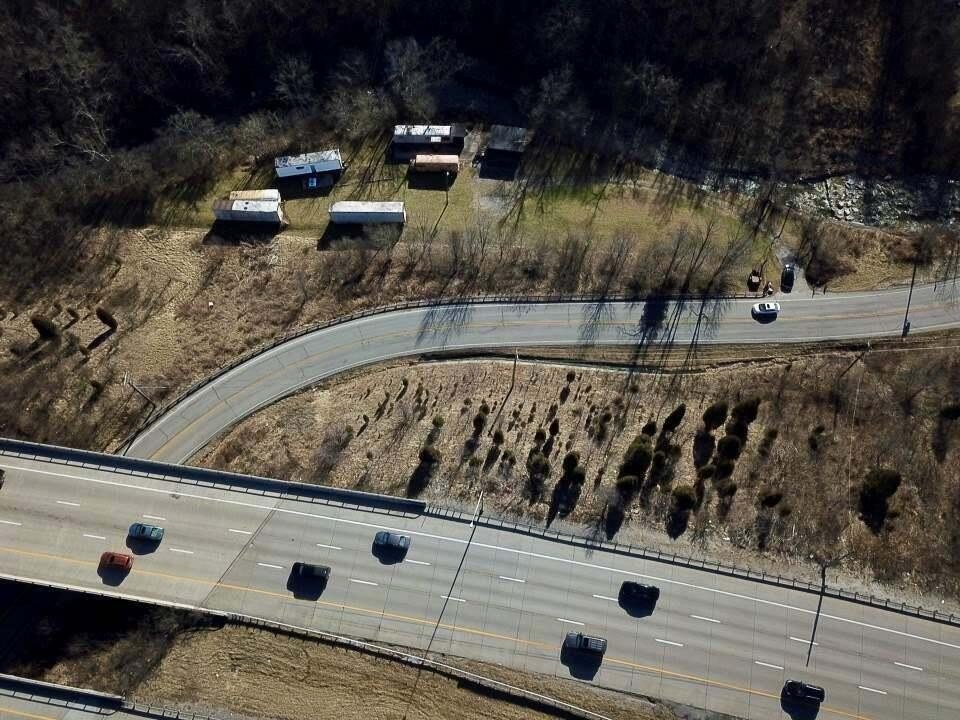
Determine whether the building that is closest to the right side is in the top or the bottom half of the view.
top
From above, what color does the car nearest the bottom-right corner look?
black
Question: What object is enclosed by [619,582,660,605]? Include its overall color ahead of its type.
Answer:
black car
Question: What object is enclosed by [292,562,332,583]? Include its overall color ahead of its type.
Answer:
black car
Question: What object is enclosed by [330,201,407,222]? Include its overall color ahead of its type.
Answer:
white trailer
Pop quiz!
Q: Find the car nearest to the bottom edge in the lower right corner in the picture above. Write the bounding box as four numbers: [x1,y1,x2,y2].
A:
[782,681,826,705]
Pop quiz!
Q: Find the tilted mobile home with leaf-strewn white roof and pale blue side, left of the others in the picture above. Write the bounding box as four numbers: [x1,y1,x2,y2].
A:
[274,149,342,181]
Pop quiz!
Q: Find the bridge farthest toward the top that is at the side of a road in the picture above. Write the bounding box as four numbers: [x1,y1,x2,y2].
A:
[0,439,427,618]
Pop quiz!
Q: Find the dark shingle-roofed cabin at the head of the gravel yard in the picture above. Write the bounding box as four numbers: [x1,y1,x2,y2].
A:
[488,122,529,159]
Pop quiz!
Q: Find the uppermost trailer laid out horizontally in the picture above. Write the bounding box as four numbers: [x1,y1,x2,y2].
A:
[411,155,458,174]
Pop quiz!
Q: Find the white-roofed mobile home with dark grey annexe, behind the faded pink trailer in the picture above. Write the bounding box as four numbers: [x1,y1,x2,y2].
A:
[393,124,467,148]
